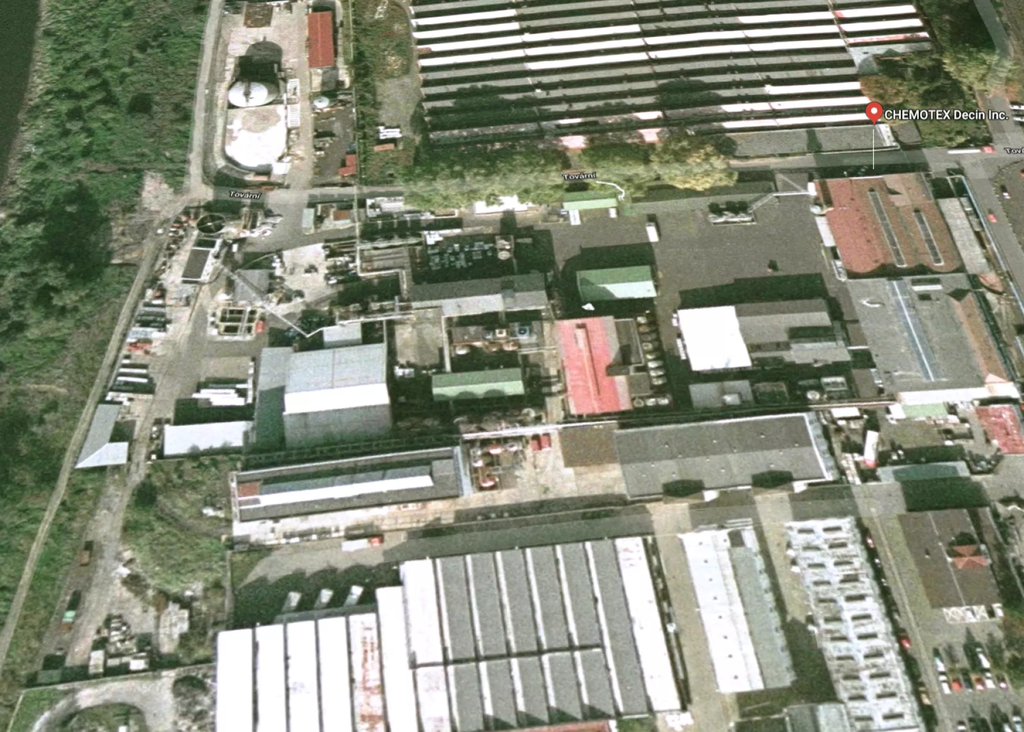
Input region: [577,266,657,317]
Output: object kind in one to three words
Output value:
building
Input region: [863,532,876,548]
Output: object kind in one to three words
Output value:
vehicle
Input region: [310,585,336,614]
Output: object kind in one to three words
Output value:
truck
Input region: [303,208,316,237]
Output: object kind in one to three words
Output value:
shed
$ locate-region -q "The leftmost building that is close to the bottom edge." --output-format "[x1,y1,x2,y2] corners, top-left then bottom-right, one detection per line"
[219,608,390,732]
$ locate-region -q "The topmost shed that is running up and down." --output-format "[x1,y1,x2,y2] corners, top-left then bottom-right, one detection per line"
[308,11,334,76]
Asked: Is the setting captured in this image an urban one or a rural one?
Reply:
urban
